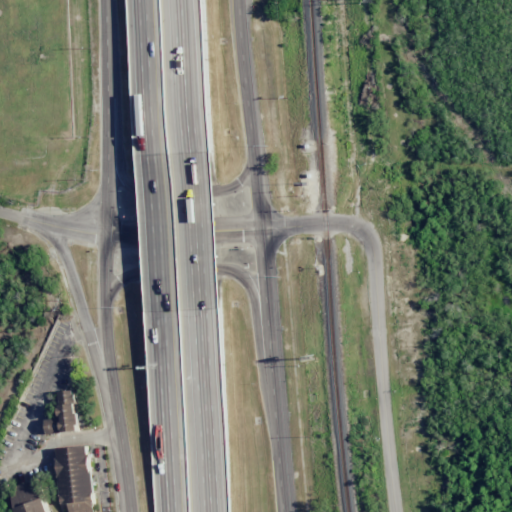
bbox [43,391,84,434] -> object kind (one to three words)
building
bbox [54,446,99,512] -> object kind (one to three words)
building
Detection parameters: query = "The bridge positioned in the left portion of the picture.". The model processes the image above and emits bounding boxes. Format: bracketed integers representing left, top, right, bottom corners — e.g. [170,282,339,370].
[125,0,232,512]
